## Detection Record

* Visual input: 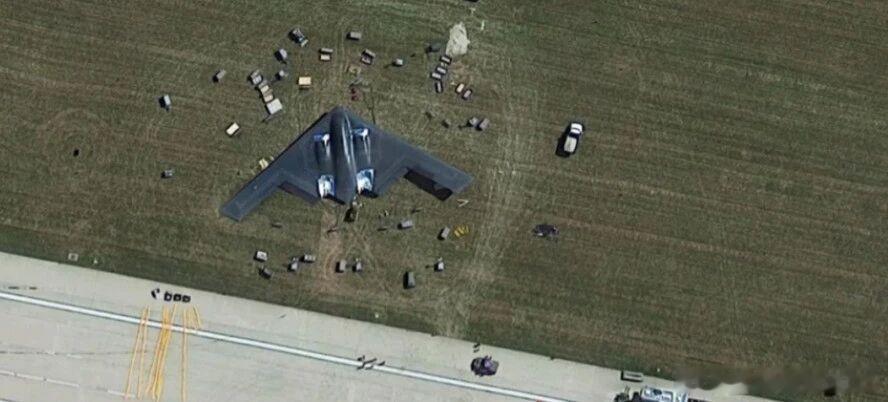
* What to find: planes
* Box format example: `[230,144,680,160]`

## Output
[221,108,474,219]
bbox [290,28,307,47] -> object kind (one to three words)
work vehicle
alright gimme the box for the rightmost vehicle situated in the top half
[562,121,582,154]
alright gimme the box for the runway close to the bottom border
[0,253,781,402]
